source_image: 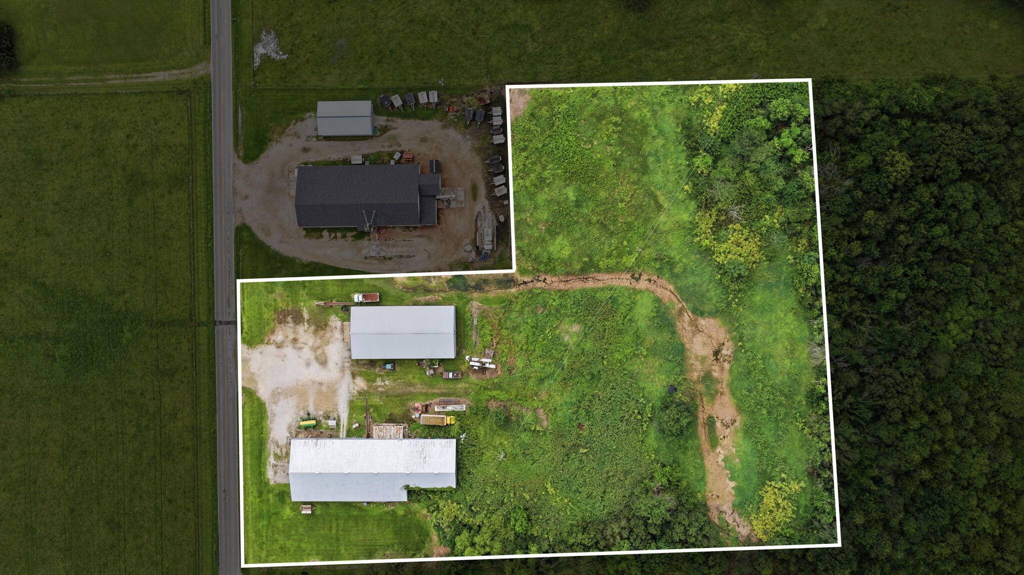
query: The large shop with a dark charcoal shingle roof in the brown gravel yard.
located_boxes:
[294,165,440,230]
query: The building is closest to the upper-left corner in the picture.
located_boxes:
[316,101,373,137]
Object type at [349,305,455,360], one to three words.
barn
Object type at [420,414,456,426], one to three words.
vehicle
